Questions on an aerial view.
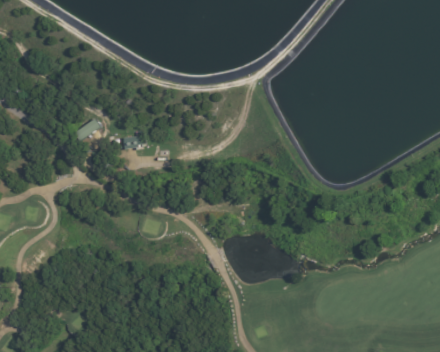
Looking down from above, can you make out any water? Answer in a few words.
Yes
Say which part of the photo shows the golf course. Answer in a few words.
bottom right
